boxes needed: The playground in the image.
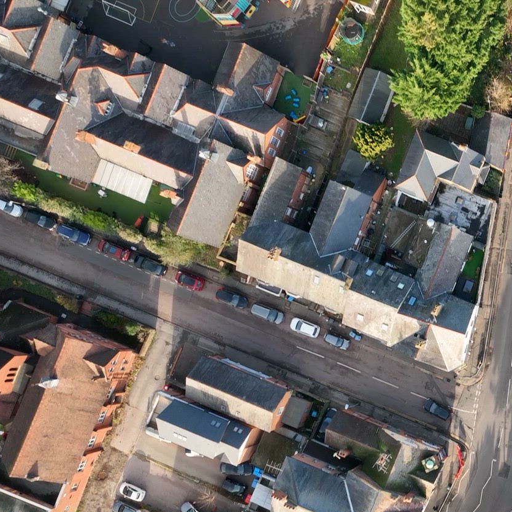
[49,0,341,83]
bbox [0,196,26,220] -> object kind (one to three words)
car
